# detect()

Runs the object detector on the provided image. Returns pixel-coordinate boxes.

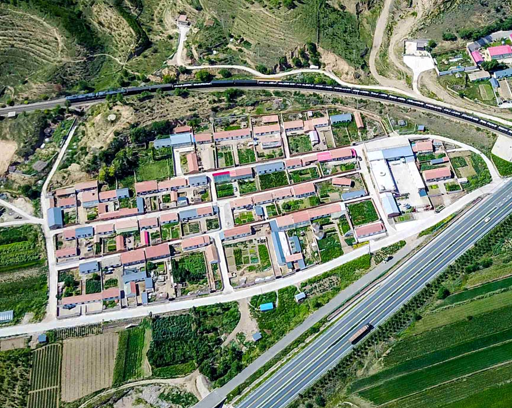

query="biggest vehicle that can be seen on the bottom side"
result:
[349,322,372,343]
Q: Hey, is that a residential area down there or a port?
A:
residential area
